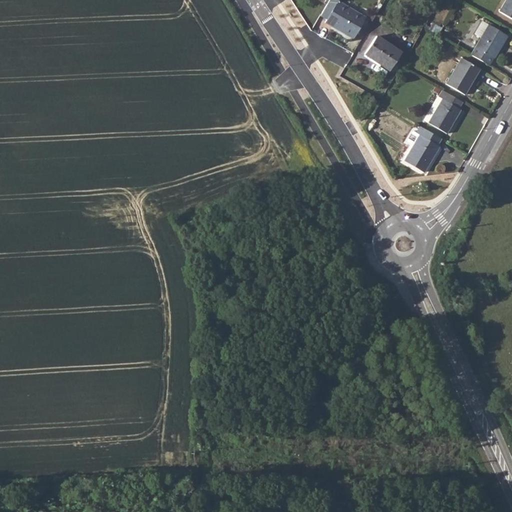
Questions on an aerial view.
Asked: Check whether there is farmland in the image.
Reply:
Yes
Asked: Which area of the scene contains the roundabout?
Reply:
right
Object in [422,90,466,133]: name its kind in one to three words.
house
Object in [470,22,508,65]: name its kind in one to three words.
house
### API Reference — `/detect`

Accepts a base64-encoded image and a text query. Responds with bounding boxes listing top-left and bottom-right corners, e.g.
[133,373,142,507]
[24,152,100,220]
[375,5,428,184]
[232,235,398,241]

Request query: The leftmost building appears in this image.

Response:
[320,0,367,40]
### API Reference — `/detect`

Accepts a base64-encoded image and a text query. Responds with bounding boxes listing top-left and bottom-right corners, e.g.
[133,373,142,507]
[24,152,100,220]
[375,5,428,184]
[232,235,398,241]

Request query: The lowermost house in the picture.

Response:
[400,128,444,172]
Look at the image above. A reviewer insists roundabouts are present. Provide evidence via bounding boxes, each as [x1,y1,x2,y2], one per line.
[375,214,434,274]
